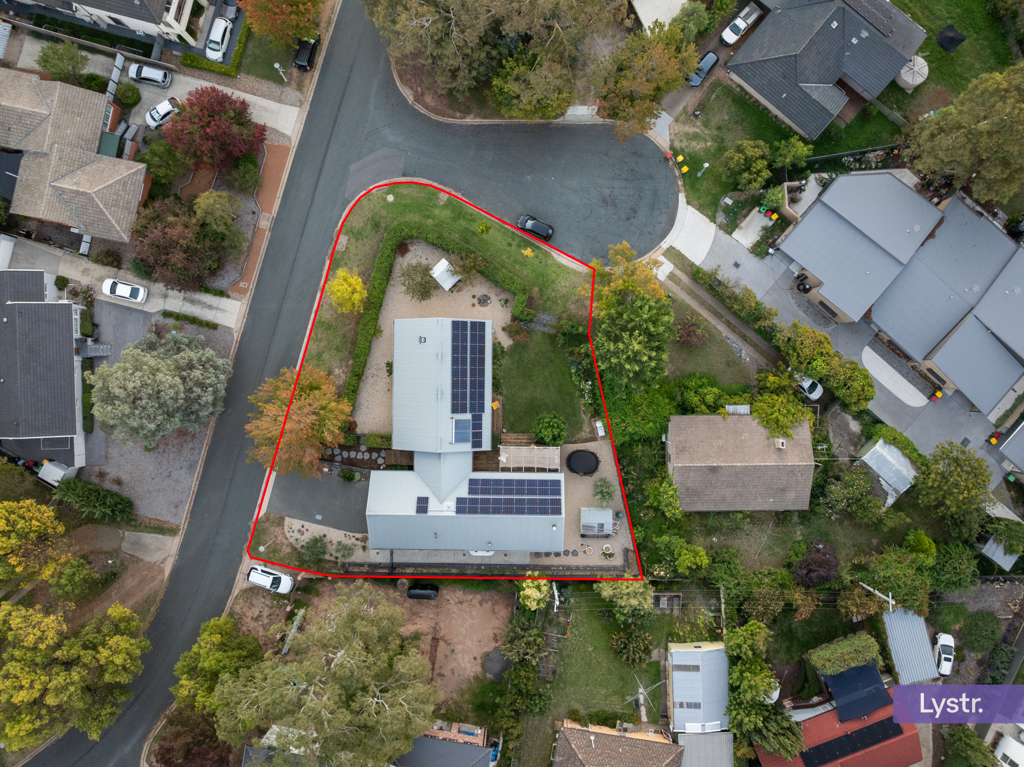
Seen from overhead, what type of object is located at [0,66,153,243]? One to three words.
house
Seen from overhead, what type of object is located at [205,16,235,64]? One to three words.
car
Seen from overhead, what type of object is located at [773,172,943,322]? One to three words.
house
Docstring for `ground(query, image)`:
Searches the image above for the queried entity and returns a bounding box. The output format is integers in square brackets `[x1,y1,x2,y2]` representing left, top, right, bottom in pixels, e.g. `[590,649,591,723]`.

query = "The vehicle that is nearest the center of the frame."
[515,213,557,243]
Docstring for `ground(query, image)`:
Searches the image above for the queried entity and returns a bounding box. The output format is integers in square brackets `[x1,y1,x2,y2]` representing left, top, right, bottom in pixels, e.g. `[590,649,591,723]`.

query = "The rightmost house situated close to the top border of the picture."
[725,0,935,142]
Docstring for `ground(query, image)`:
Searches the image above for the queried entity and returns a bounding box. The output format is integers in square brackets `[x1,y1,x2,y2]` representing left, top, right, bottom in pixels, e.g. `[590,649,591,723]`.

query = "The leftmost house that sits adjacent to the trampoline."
[366,317,565,552]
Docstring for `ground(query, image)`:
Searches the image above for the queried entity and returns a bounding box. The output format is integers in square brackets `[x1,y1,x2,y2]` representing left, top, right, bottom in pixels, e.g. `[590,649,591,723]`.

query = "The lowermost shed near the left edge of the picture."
[38,459,76,486]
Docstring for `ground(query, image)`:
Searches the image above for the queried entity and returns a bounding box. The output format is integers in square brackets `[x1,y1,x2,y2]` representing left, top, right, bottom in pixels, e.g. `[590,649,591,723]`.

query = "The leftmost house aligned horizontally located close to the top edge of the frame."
[65,0,213,63]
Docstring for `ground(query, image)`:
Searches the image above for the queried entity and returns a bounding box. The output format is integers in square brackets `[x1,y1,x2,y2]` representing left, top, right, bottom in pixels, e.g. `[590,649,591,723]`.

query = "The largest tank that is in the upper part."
[888,57,928,96]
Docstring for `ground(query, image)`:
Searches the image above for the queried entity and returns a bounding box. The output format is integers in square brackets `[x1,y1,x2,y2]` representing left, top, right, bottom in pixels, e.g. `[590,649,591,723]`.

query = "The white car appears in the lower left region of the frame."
[244,564,296,596]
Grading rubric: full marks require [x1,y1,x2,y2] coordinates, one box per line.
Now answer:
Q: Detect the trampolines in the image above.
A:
[566,449,601,478]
